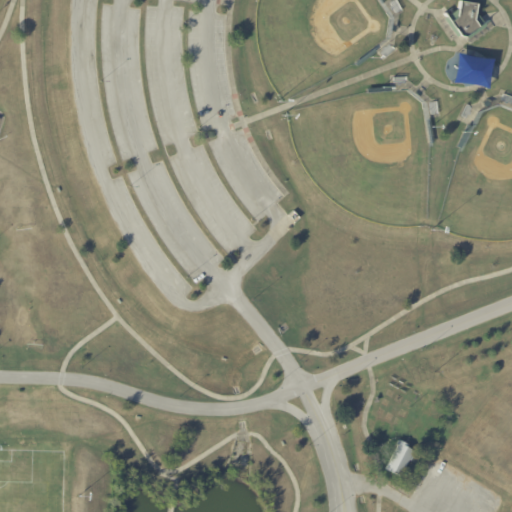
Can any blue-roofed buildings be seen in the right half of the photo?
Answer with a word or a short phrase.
Yes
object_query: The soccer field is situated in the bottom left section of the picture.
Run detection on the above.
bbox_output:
[0,448,66,512]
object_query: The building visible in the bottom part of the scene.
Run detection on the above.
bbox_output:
[386,440,414,474]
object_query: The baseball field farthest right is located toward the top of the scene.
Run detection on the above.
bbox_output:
[438,106,512,240]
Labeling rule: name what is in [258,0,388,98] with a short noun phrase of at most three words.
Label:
baseball field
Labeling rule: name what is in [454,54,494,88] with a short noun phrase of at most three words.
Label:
building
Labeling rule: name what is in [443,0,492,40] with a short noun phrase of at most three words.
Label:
building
